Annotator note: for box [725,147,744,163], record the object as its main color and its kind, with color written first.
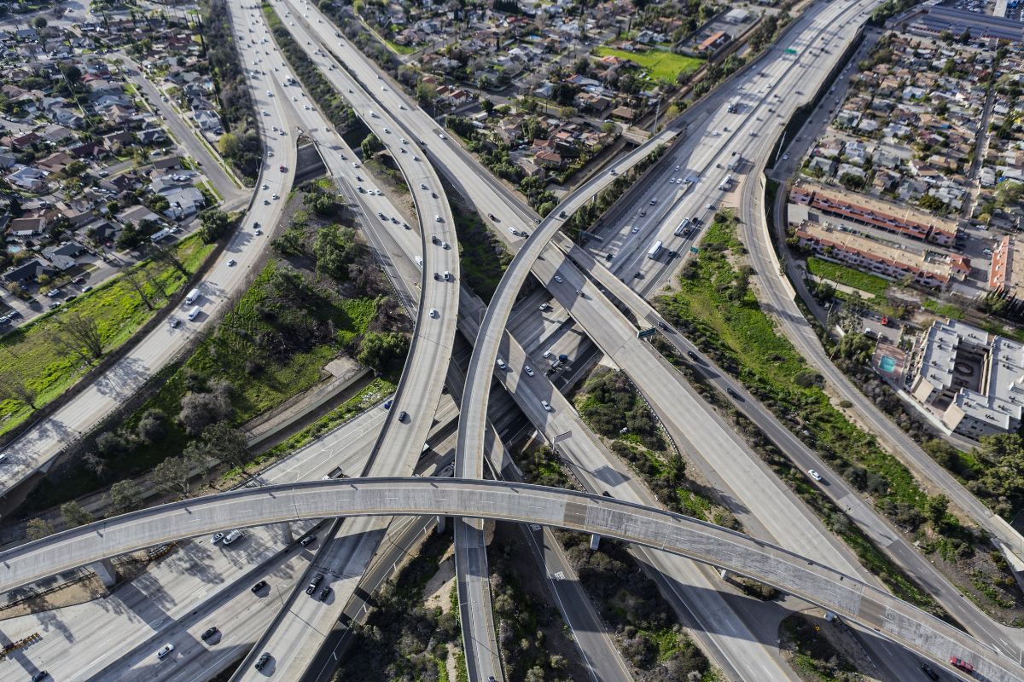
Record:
white vehicle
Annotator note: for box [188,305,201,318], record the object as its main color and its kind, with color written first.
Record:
white vehicle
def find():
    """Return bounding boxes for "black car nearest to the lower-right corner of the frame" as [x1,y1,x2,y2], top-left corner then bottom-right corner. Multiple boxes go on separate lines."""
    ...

[921,662,941,682]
